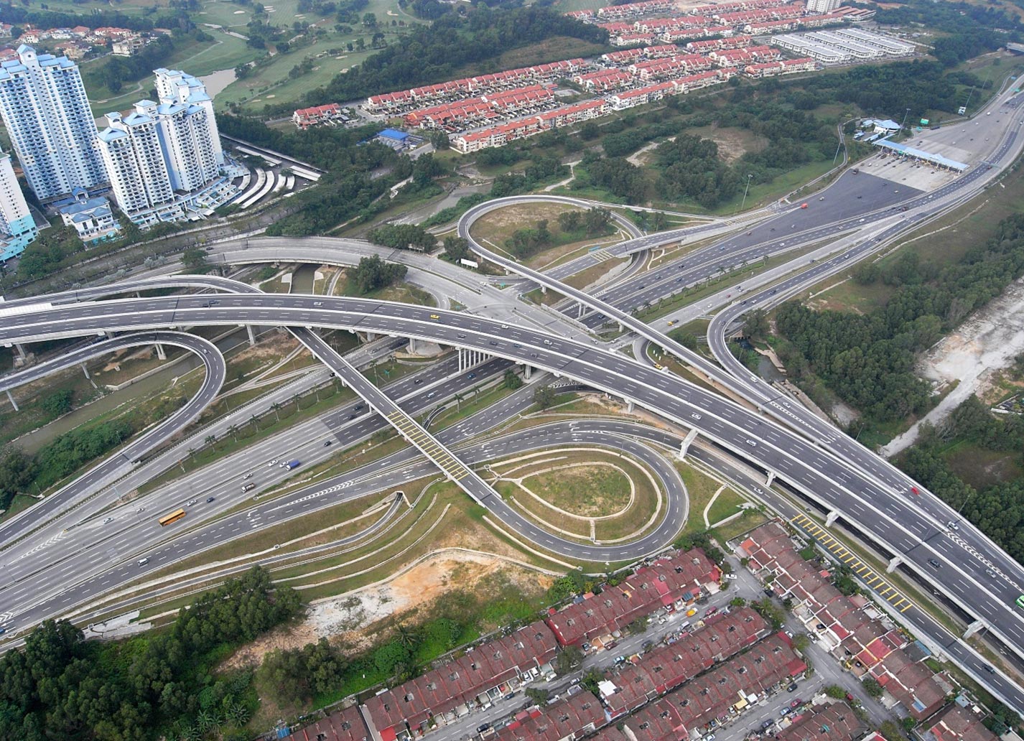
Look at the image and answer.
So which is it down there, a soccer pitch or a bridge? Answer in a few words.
bridge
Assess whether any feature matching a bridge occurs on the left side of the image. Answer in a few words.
Yes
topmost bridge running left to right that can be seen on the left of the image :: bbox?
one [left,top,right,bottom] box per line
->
[181,236,392,268]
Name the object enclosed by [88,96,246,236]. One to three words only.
building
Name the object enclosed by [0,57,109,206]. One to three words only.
building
